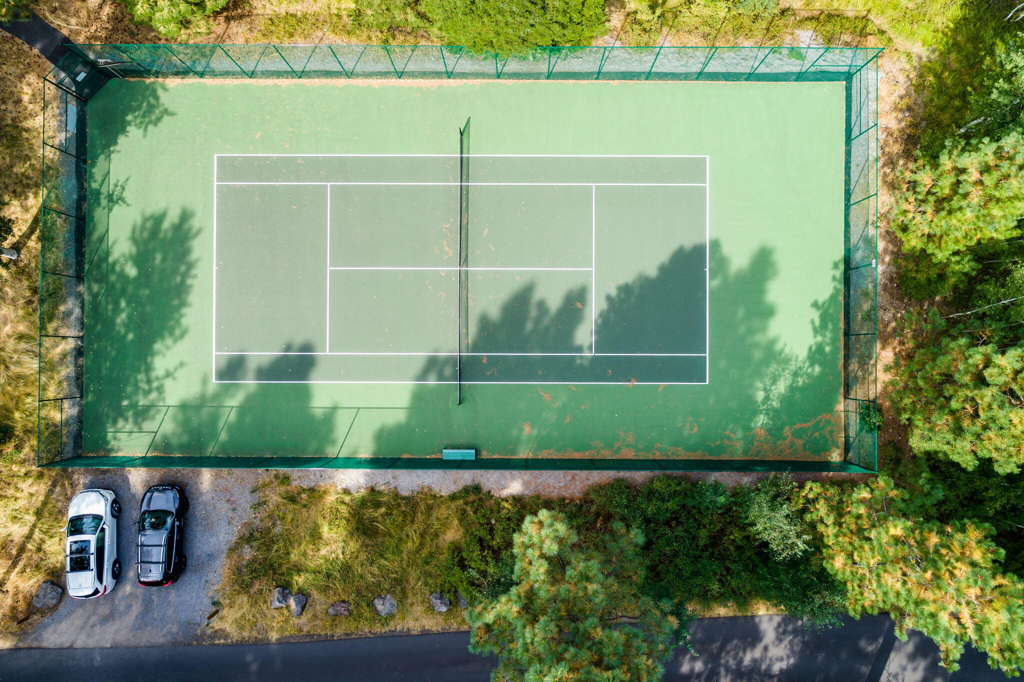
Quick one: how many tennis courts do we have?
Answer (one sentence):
I count just 1 tennis court.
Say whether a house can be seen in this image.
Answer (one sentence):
No, no house is visible in the view.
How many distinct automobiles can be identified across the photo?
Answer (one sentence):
The photo contains 2 automobiles.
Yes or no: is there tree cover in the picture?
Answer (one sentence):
Yes, there is tree cover in the image.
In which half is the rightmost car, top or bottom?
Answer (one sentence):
You can find the rightmost car in the bottom half.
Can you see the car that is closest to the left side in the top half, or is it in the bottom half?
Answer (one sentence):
The car that is closest to the left side sits in the bottom half of the picture.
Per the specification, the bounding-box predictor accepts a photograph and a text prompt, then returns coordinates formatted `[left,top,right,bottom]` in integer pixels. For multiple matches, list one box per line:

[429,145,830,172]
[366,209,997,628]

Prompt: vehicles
[66,490,123,597]
[135,484,191,587]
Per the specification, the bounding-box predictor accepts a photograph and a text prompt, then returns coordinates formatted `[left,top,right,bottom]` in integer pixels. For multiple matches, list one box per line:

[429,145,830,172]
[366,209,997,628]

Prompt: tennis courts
[74,71,853,469]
